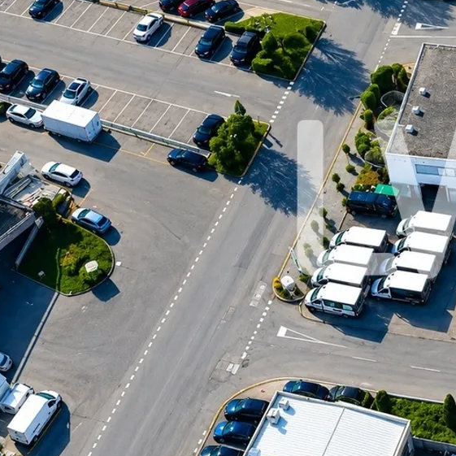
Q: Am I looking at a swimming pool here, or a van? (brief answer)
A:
van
